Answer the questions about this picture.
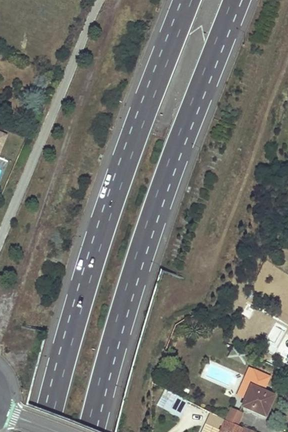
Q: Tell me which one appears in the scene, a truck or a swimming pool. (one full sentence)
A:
The image shows a swimming pool.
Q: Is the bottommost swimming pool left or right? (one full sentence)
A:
You can find the bottommost swimming pool on the right side of the picture.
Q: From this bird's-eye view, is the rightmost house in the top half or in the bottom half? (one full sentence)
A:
It is in the bottom half that the rightmost house appears.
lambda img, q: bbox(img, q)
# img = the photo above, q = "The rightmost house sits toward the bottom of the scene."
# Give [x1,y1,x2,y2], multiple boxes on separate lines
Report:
[238,366,278,416]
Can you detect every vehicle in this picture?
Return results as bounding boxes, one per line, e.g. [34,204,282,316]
[100,187,108,200]
[76,258,84,270]
[191,414,202,420]
[89,257,96,268]
[104,174,112,186]
[77,296,84,307]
